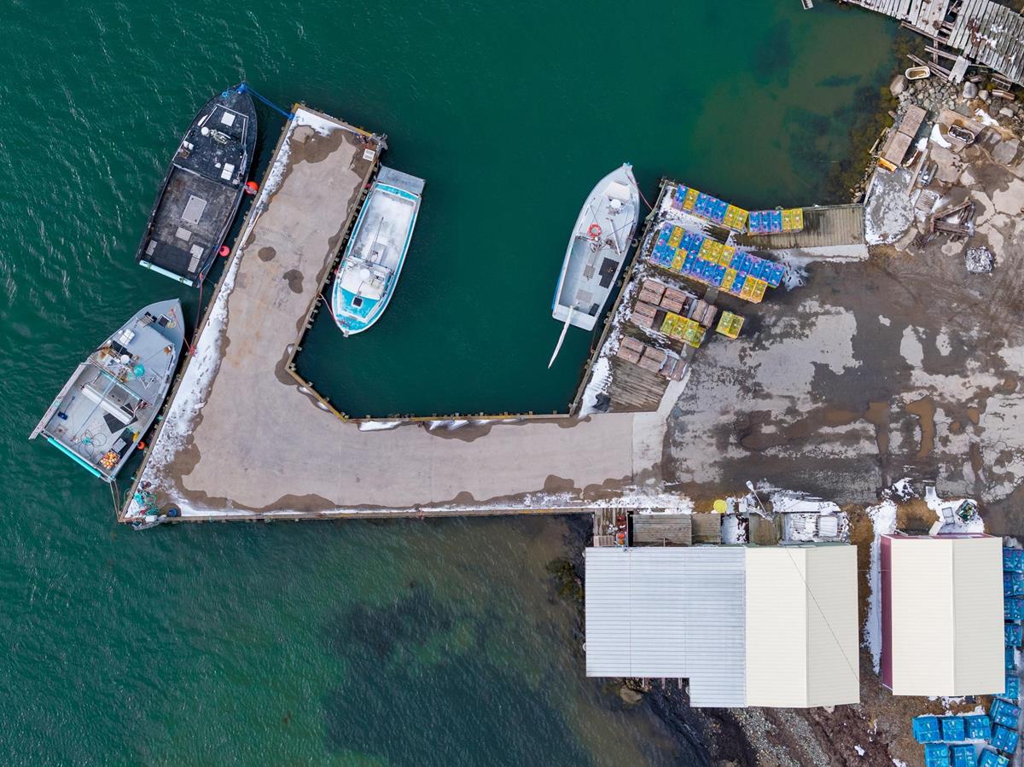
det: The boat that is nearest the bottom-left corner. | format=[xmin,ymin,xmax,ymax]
[28,298,185,484]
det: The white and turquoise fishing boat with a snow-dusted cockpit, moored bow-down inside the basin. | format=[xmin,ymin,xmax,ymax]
[332,165,426,337]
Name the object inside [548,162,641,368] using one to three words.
boat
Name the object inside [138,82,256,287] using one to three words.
boat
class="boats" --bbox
[138,82,256,287]
[332,165,426,337]
[548,162,641,368]
[28,298,185,484]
